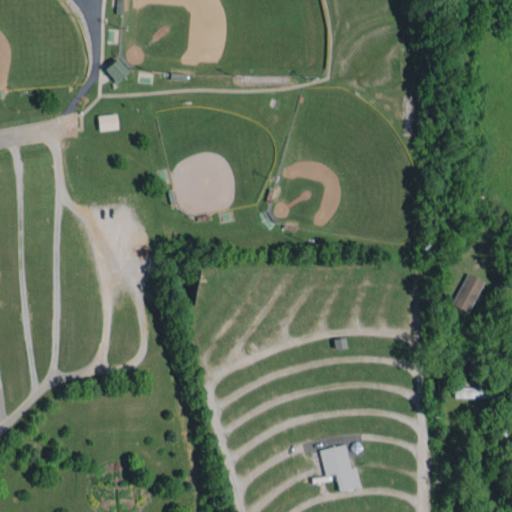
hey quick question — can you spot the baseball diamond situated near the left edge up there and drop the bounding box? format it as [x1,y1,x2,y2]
[0,0,87,97]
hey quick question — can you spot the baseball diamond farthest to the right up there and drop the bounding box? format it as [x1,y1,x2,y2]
[268,88,414,244]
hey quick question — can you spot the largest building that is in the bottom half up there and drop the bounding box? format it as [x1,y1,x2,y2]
[320,445,362,492]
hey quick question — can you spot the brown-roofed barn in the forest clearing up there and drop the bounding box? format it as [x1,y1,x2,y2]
[454,274,488,312]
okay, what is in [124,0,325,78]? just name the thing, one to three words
baseball field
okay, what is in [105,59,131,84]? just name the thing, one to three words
building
